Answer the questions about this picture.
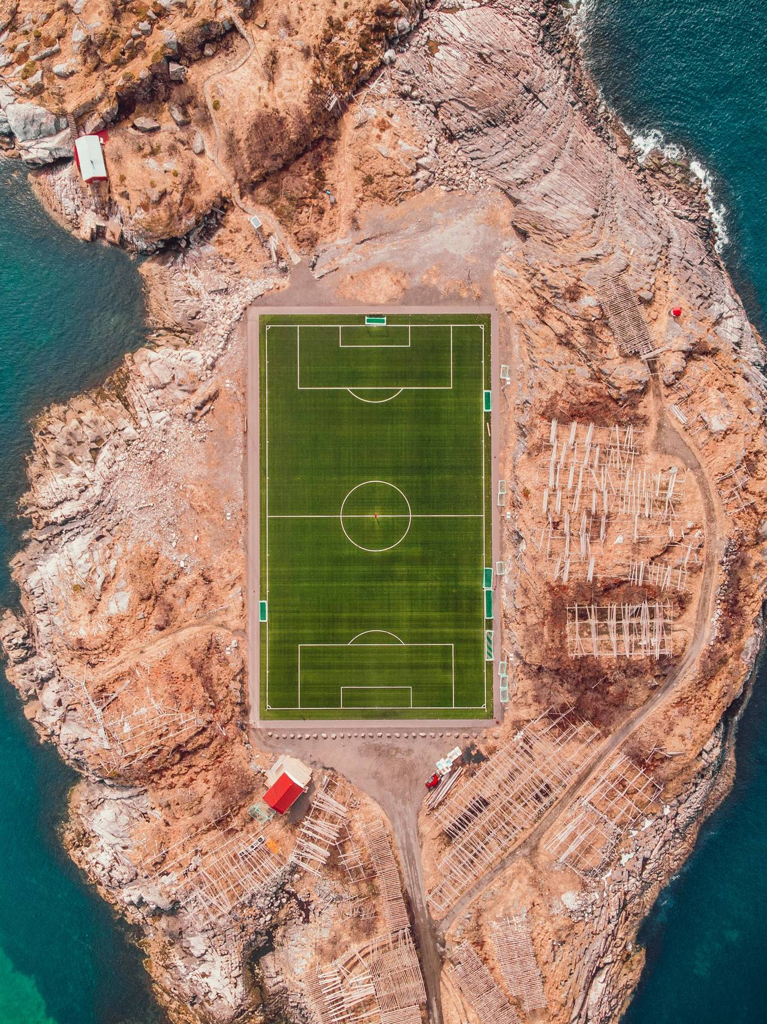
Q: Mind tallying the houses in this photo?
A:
2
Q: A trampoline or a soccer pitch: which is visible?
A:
soccer pitch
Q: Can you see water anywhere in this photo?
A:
Yes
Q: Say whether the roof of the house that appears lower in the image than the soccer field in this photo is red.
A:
Yes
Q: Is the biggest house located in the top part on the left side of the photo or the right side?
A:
left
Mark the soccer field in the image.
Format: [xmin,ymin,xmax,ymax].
[258,315,493,720]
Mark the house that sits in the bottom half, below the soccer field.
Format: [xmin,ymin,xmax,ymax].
[263,770,304,815]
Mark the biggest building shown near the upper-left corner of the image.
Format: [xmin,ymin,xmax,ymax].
[76,136,109,190]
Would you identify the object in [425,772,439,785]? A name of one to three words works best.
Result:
vehicle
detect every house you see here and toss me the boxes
[76,136,109,190]
[263,770,304,815]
